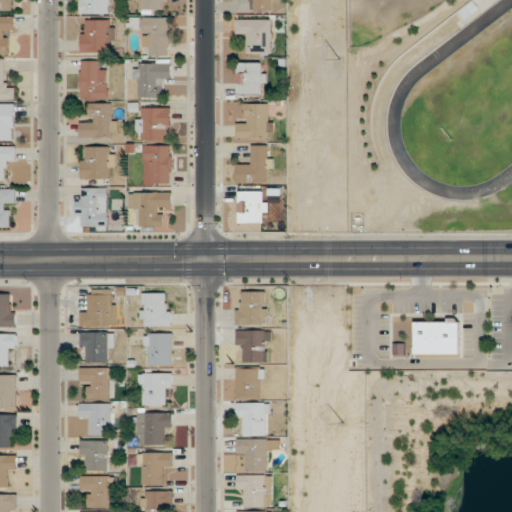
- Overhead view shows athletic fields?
Yes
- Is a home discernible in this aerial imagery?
Yes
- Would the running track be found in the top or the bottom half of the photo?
top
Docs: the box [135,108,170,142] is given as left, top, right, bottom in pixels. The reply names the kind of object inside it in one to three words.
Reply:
house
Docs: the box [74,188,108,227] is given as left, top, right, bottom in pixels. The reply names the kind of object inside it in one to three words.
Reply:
house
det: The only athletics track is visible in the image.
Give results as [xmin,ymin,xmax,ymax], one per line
[385,0,512,200]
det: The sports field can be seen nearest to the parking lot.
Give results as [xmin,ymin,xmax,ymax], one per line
[400,10,512,185]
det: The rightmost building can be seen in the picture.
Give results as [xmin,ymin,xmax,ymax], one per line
[412,316,460,354]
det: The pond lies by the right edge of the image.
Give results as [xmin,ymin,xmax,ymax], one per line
[458,448,512,512]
